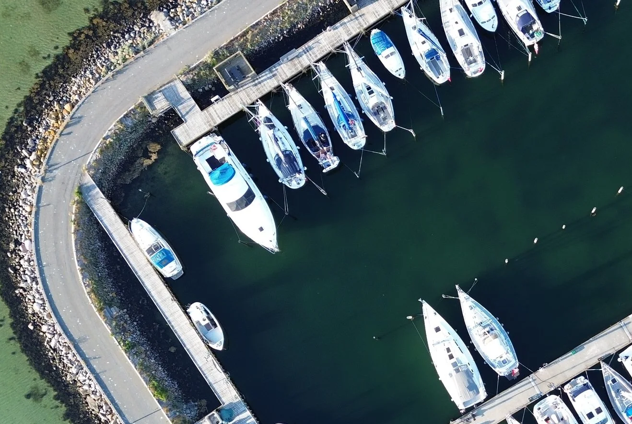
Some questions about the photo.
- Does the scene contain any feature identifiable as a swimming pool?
No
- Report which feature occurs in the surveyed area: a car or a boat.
boat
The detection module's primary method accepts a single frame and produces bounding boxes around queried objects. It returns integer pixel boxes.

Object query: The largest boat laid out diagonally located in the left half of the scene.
[192,131,280,252]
